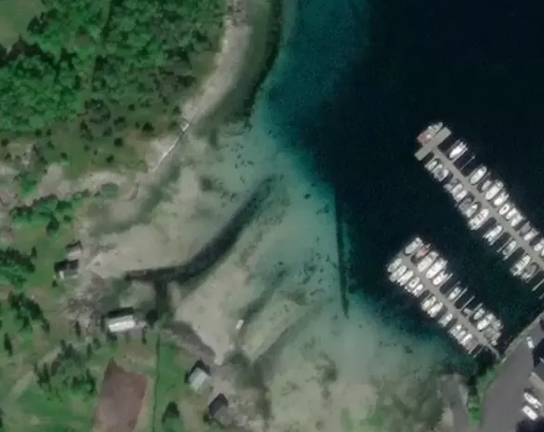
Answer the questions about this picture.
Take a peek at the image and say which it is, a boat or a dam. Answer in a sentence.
The image shows a boat.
